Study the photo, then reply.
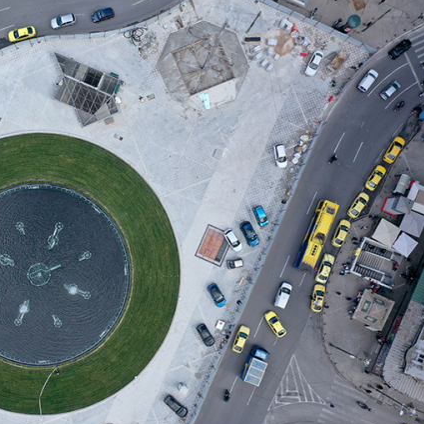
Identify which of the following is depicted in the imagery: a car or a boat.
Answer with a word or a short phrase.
car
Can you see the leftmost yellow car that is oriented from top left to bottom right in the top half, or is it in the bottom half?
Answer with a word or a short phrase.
bottom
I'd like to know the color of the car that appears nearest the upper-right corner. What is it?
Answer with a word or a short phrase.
black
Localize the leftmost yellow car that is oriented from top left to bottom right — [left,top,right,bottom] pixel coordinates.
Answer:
[264,309,286,337]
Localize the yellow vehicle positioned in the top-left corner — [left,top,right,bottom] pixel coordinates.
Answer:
[8,26,37,43]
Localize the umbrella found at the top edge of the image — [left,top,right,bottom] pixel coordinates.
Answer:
[334,14,362,35]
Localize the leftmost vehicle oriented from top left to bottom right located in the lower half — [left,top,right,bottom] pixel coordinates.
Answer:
[163,392,188,419]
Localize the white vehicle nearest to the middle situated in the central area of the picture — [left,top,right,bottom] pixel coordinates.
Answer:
[222,228,242,253]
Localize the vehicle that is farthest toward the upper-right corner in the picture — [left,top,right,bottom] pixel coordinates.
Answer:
[385,37,414,62]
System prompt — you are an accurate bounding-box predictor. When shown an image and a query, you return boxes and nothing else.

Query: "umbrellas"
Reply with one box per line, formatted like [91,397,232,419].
[334,14,362,35]
[391,232,418,257]
[372,219,400,247]
[400,210,424,237]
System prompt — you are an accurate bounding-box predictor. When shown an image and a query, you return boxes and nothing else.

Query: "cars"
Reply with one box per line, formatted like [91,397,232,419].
[222,228,242,253]
[8,26,37,43]
[304,49,324,77]
[226,258,245,271]
[385,37,414,62]
[310,283,326,312]
[382,137,405,165]
[49,13,77,29]
[378,79,401,102]
[252,203,269,228]
[330,219,350,248]
[194,321,216,348]
[239,220,259,248]
[233,324,249,353]
[316,253,334,282]
[89,6,117,24]
[273,143,289,168]
[355,68,380,95]
[365,163,385,192]
[207,281,226,309]
[347,191,368,219]
[274,282,292,309]
[264,309,286,337]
